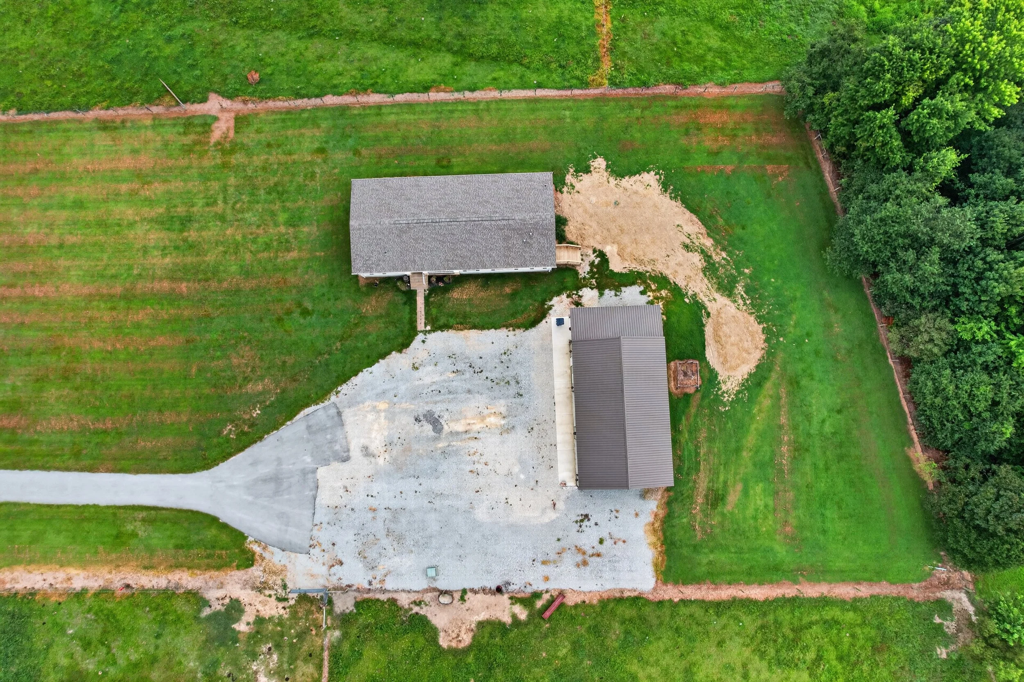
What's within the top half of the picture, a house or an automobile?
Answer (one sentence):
It is a house that can be seen within the top half of the picture.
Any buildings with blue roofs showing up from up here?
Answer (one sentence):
No, no building with a blue roof can be seen from above.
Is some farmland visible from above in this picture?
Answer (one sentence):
Yes, farmland can be seen from above here.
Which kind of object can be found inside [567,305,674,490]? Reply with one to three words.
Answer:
barn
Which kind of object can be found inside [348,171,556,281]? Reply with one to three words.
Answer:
house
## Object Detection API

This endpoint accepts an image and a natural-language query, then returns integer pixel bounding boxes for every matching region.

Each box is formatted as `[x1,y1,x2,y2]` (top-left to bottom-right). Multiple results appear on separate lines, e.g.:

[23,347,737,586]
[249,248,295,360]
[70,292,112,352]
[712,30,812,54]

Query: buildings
[567,305,674,490]
[348,171,556,281]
